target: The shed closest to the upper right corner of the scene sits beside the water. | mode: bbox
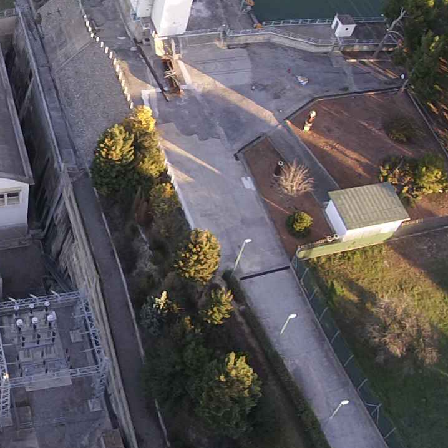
[328,13,360,41]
